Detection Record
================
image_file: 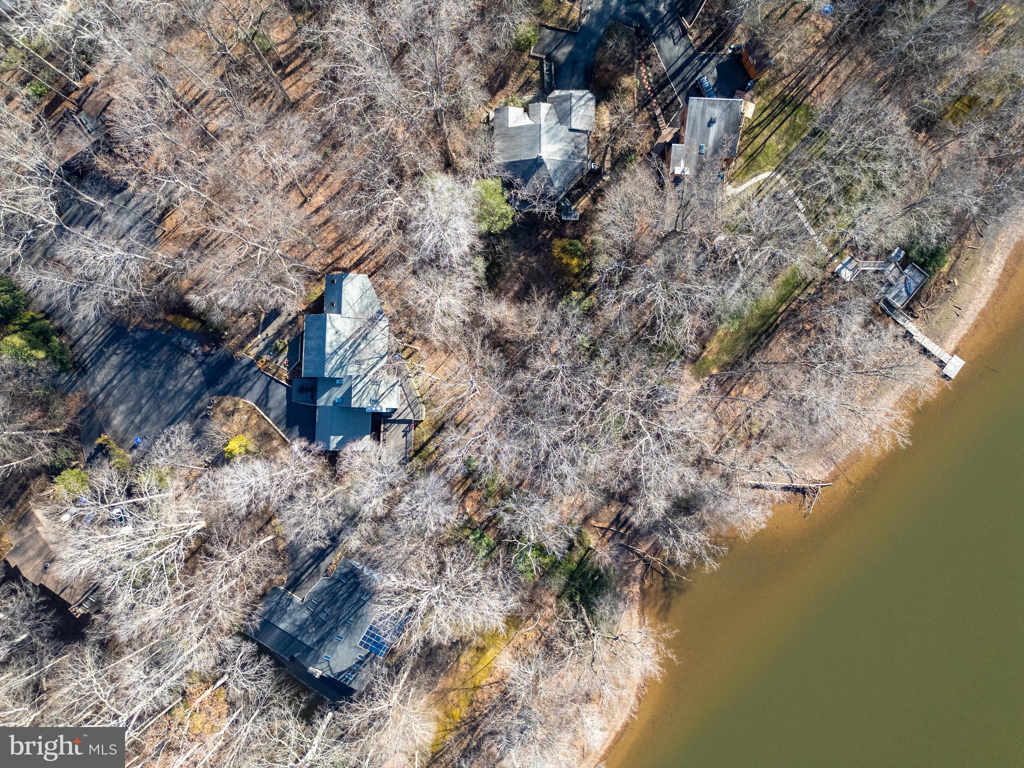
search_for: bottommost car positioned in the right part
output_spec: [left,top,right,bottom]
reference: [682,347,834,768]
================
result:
[695,70,720,97]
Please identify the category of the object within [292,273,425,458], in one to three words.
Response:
house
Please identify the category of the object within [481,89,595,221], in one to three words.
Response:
house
